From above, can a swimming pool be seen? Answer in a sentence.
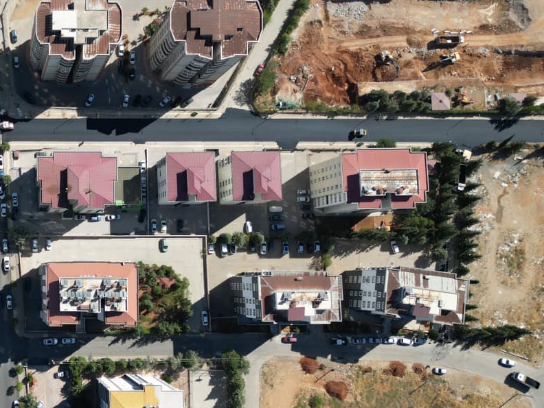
No, this view has no swimming pool in it.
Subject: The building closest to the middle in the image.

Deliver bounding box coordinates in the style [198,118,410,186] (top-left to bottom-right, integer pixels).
[220,151,281,205]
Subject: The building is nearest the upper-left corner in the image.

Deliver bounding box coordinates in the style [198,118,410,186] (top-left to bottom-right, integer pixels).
[32,0,122,84]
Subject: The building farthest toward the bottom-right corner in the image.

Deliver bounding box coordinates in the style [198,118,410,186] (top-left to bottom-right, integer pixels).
[347,266,470,326]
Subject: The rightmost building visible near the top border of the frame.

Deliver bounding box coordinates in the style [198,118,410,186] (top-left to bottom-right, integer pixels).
[150,0,264,84]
